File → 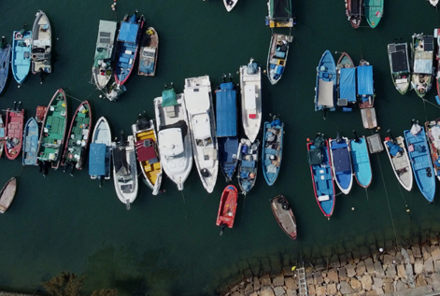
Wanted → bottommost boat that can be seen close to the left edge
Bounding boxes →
[0,177,18,214]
